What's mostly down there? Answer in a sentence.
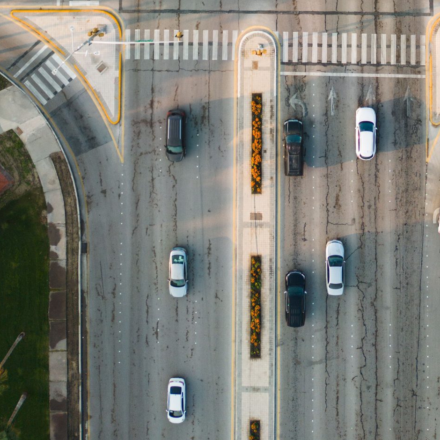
The largest share of the image is taken up by paved ground.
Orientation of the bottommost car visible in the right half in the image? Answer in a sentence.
In this picture, the bottommost car visible in the right half lies up and down.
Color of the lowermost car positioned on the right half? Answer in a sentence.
The color of the lowermost car positioned on the right half is black.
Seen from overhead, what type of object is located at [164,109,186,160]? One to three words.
car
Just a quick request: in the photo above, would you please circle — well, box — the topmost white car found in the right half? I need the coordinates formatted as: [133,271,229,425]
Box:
[355,108,377,158]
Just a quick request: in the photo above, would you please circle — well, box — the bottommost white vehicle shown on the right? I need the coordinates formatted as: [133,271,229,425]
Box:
[324,239,346,294]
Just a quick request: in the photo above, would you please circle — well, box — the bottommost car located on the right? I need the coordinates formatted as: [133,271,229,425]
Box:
[283,270,307,328]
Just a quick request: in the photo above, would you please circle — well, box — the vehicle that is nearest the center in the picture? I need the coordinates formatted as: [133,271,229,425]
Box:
[167,247,188,295]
